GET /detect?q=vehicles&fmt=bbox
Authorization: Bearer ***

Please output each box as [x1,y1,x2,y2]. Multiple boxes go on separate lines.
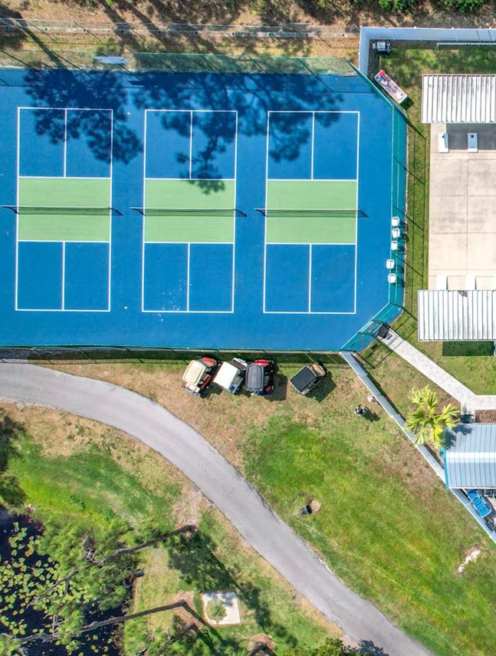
[176,354,218,397]
[206,355,249,397]
[283,360,328,397]
[242,356,274,398]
